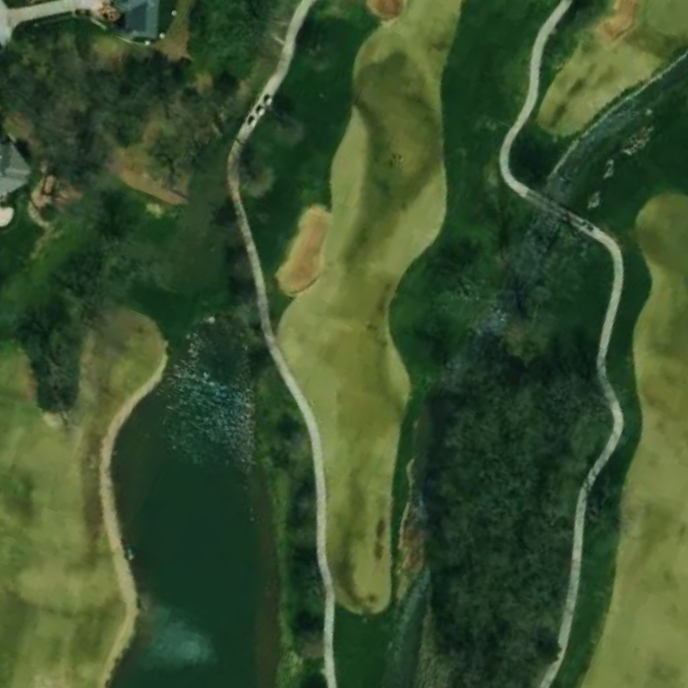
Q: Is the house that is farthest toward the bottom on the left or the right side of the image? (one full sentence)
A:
The house that is farthest toward the bottom appears in the left half of the scene.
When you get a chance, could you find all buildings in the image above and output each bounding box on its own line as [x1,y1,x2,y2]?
[0,143,30,205]
[114,0,162,38]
